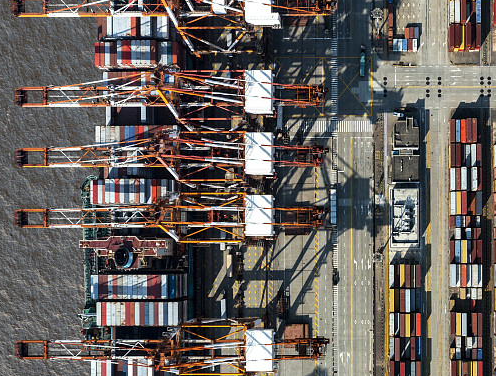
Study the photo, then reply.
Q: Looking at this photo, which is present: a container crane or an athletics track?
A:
container crane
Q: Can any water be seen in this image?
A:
Yes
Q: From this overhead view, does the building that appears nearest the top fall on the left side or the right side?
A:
right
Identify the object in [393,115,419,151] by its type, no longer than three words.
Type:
building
